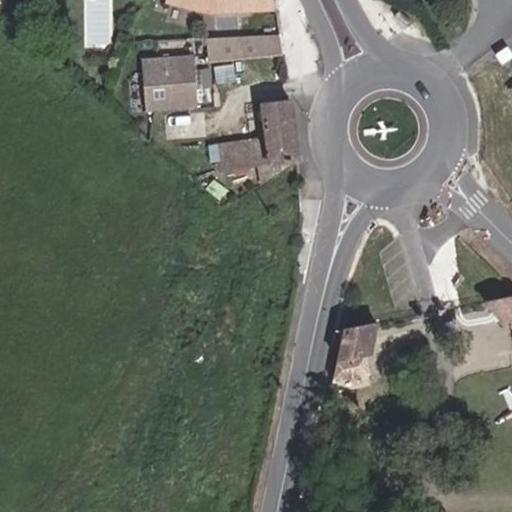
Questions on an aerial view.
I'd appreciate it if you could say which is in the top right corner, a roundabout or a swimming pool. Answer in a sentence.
Visible in the top right corner is a roundabout.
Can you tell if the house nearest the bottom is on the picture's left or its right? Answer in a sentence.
The house nearest the bottom appears in the right half of the scene.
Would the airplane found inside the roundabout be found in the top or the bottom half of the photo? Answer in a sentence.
Seen from above, the airplane found inside the roundabout lies in the top half of the view.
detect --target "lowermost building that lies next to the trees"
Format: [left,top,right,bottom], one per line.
[332,323,380,390]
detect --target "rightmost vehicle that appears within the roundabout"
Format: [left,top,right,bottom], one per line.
[415,79,432,100]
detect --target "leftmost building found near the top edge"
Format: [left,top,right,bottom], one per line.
[82,0,114,48]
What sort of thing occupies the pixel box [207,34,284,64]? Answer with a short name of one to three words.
building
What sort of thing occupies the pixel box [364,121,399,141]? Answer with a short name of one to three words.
airplane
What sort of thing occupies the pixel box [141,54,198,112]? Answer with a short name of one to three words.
house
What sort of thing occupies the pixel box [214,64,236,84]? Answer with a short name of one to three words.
shed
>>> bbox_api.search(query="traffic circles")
[311,46,478,212]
